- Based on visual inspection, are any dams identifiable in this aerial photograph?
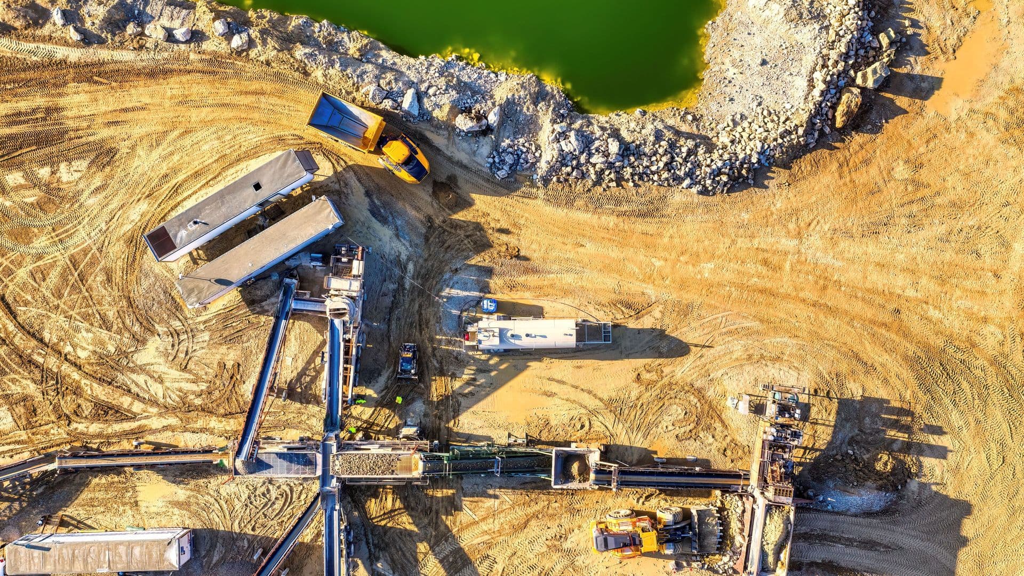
No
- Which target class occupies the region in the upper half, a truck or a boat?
truck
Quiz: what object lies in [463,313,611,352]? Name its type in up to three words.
trailer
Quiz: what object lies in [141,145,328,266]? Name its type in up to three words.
trailer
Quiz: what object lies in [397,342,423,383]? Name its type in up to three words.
work vehicle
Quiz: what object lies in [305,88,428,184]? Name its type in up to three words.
truck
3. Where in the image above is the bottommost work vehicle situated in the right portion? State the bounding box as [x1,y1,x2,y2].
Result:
[588,501,725,558]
